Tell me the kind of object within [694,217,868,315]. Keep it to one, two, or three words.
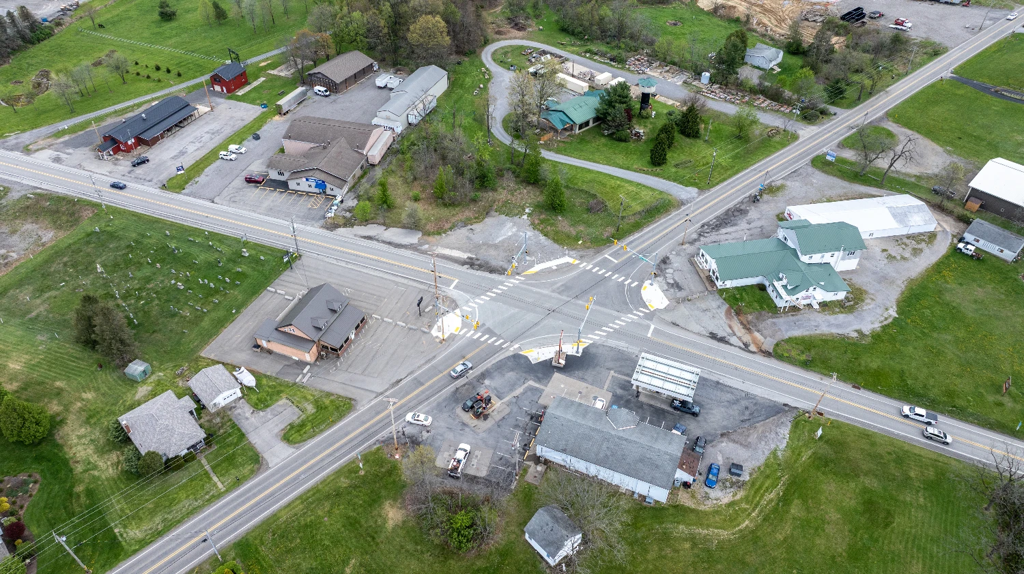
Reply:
building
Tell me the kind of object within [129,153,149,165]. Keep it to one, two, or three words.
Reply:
vehicle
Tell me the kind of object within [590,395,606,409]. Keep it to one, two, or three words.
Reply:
car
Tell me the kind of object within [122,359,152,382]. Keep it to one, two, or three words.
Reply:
shed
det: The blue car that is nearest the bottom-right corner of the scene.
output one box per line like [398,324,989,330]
[705,460,722,488]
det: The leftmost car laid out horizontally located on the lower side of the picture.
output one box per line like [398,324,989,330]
[404,410,433,425]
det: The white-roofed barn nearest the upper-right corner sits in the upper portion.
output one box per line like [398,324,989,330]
[964,150,1024,223]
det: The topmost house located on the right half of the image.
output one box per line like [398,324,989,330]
[745,42,783,68]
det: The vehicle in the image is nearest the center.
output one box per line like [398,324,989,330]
[448,360,474,376]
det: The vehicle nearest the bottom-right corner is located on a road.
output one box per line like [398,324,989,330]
[923,423,956,445]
